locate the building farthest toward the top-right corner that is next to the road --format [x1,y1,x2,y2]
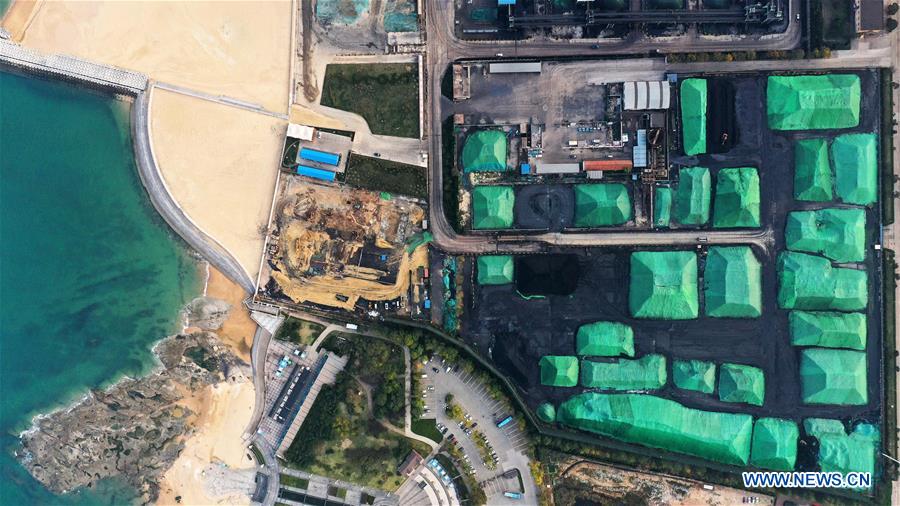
[853,0,883,34]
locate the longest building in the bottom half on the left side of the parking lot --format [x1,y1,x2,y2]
[276,353,350,454]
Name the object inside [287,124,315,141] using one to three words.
building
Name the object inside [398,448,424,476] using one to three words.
house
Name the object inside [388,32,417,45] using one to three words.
building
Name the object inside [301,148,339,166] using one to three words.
shed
